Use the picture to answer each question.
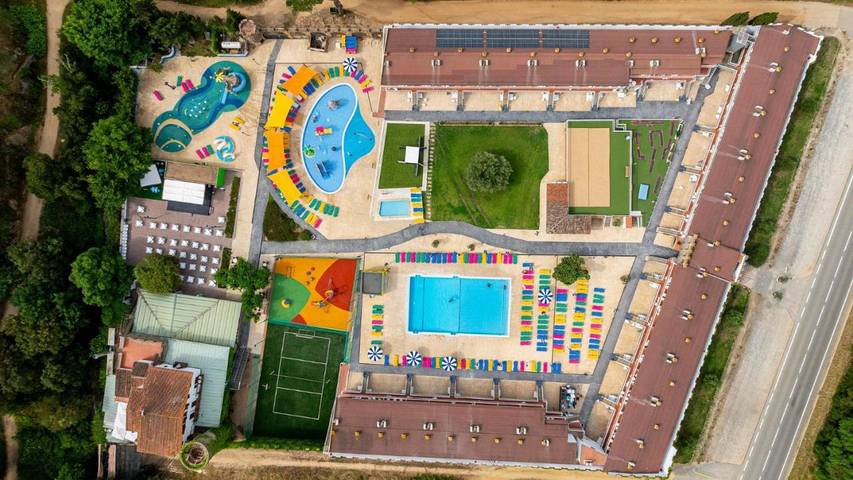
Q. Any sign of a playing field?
Yes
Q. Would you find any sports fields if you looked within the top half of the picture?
No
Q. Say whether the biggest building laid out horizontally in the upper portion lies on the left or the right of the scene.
right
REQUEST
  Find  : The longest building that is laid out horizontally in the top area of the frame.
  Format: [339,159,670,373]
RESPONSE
[380,24,734,93]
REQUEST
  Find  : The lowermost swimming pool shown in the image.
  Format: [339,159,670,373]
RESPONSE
[406,274,512,338]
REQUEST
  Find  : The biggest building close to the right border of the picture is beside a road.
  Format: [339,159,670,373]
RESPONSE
[600,22,826,478]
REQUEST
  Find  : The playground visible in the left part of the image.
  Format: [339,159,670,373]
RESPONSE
[269,258,357,331]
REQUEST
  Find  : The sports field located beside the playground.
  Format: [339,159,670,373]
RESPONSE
[253,322,347,441]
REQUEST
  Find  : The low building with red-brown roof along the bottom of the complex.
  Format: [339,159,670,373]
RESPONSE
[327,390,578,468]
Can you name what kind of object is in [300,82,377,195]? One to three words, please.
swimming pool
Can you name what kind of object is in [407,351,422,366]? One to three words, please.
umbrella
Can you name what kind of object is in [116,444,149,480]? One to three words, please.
shed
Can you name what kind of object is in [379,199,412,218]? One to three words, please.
swimming pool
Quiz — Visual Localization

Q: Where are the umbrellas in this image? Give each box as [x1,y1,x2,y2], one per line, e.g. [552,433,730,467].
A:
[441,356,456,371]
[343,58,358,72]
[407,351,422,366]
[368,346,382,361]
[538,288,552,303]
